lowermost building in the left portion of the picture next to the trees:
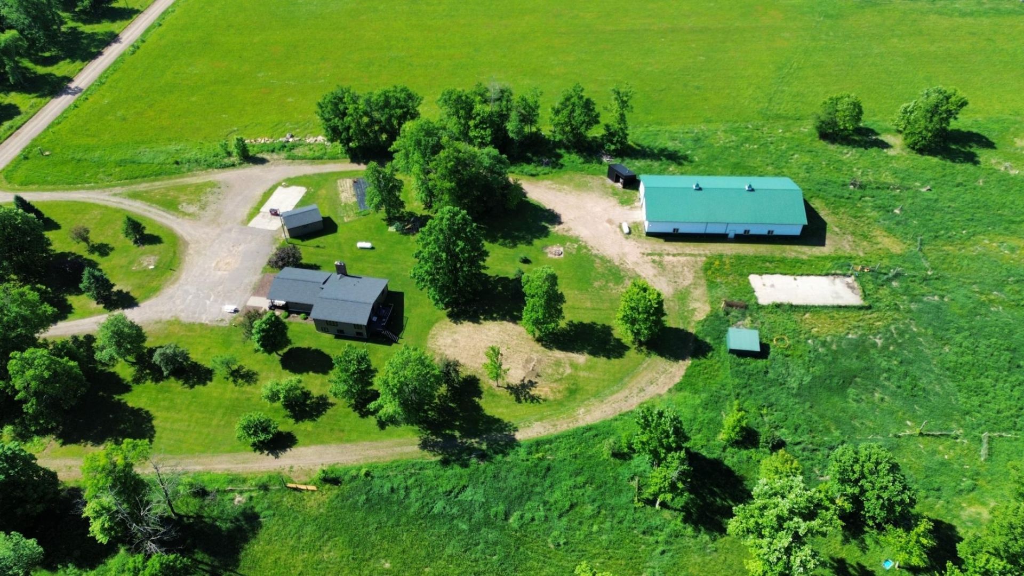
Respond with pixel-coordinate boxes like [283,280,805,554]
[266,261,399,343]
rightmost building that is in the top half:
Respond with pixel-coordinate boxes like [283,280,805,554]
[636,175,808,237]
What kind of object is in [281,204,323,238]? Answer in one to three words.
shed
